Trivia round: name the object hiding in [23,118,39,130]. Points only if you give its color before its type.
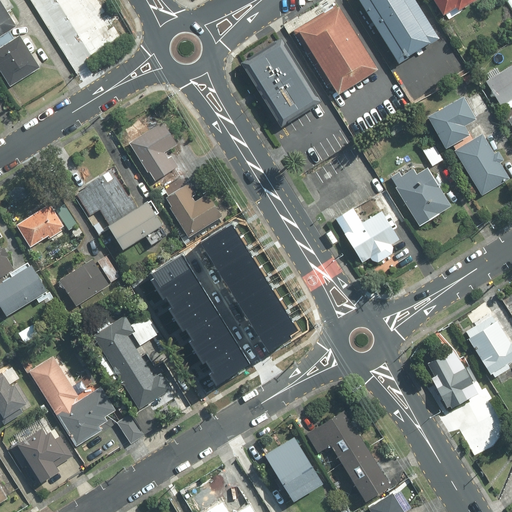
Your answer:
white vehicle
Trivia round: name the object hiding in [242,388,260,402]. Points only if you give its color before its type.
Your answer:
white vehicle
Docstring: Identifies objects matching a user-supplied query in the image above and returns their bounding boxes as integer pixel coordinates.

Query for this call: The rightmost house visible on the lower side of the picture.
[466,314,512,378]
